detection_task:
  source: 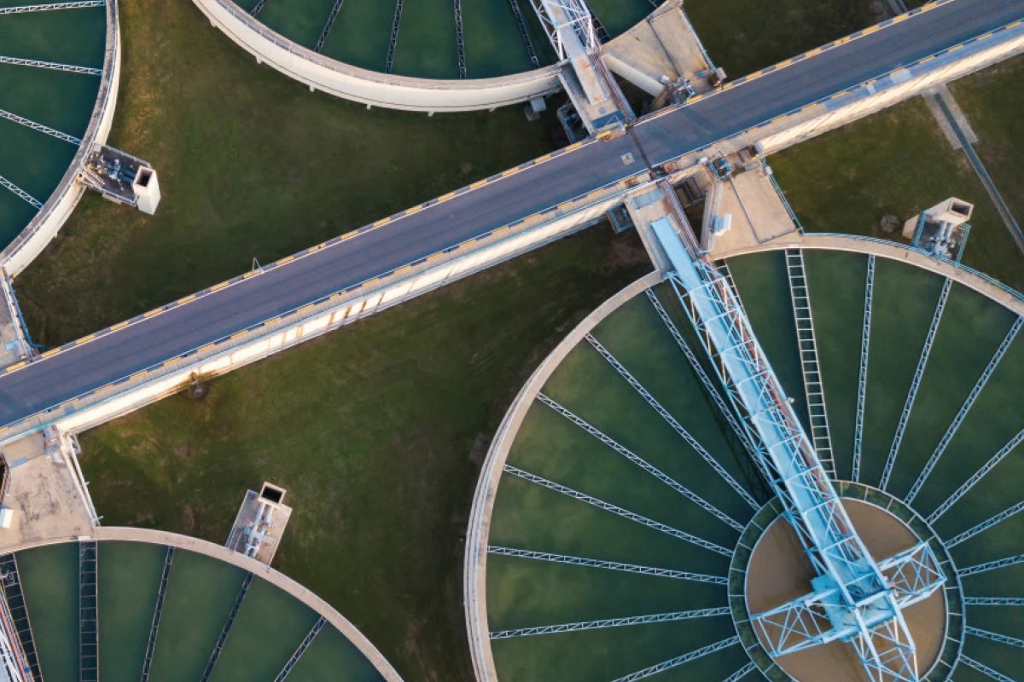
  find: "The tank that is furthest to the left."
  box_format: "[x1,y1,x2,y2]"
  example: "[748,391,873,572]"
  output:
[0,0,123,280]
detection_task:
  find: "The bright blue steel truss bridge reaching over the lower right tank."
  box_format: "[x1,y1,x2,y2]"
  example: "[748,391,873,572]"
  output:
[648,214,918,682]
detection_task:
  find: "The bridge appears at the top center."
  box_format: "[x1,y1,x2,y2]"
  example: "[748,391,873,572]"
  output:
[528,0,611,106]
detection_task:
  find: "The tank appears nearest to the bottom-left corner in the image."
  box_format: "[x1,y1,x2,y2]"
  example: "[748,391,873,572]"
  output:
[0,523,403,682]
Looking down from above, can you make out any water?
Yes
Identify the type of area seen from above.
industrial area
